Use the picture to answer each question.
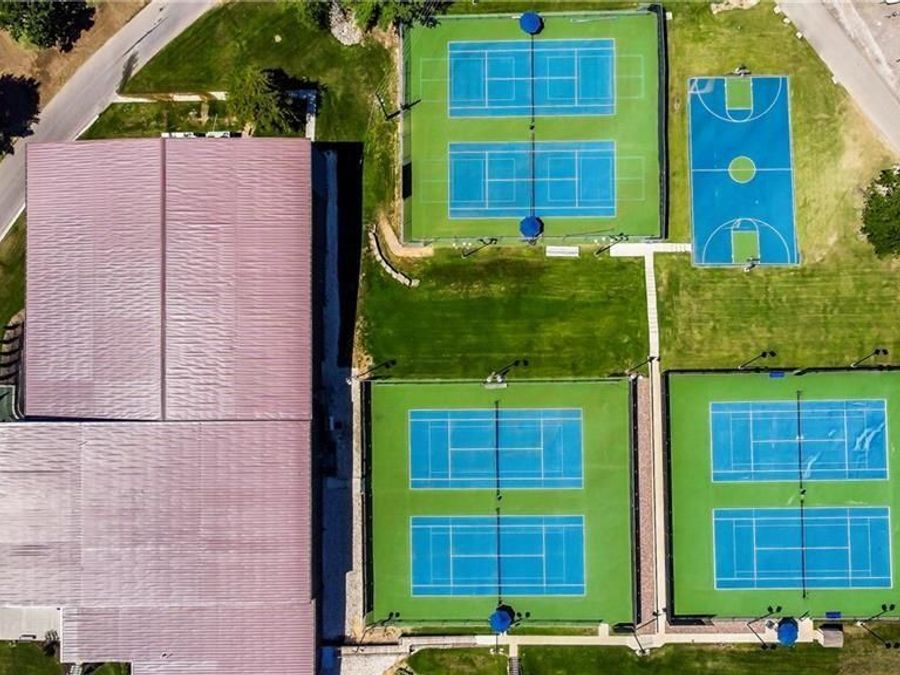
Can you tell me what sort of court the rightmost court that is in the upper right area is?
basketball court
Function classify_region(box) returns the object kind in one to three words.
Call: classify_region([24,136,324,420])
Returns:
building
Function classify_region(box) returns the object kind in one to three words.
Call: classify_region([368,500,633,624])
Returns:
tennis court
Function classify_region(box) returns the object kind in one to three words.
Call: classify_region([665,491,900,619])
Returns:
tennis court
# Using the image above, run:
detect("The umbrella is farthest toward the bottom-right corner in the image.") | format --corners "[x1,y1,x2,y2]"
[777,621,799,642]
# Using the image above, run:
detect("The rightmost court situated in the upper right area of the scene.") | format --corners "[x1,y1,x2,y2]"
[687,75,798,266]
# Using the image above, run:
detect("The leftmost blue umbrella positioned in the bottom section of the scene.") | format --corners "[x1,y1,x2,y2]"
[490,608,512,632]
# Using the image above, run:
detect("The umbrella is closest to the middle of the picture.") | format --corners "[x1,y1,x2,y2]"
[519,216,542,239]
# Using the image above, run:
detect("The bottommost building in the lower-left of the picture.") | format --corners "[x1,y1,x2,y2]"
[0,419,322,675]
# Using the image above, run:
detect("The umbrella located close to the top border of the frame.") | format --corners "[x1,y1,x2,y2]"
[519,13,543,37]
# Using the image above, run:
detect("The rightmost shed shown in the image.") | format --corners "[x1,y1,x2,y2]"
[809,628,844,647]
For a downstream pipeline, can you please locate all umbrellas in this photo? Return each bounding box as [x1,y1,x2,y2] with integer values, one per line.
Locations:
[519,216,542,239]
[519,13,543,37]
[490,608,512,632]
[777,621,799,642]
